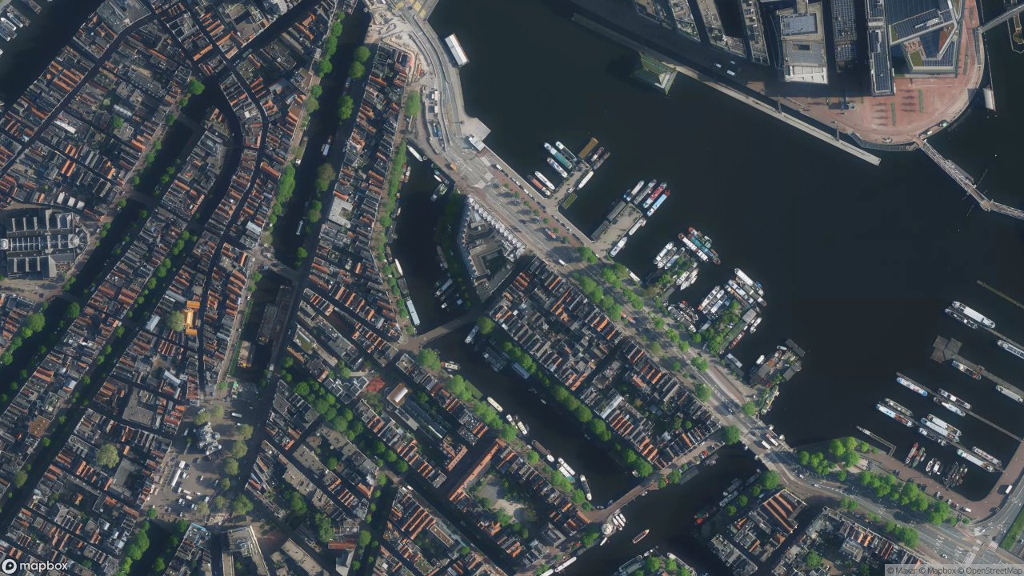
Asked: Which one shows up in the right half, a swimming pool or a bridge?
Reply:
bridge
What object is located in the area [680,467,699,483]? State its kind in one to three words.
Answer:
boat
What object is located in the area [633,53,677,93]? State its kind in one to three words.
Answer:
building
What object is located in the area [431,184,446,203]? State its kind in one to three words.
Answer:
boat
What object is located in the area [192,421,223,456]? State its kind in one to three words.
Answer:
house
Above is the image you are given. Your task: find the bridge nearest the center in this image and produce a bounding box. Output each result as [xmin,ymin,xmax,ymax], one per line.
[412,308,486,349]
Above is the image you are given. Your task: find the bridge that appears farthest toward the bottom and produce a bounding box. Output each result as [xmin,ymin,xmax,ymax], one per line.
[585,478,662,527]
